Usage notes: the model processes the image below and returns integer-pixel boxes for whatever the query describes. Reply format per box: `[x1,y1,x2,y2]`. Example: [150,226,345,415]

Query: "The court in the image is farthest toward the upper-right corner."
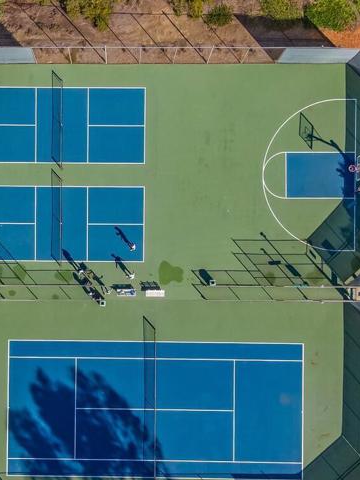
[261,98,356,251]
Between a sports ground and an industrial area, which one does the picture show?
sports ground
